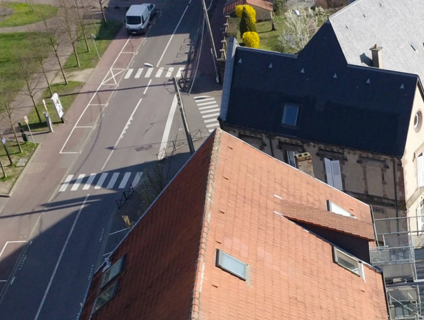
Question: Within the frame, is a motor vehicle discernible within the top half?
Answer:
Yes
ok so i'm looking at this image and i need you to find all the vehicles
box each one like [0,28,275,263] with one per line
[144,1,159,17]
[124,3,149,32]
